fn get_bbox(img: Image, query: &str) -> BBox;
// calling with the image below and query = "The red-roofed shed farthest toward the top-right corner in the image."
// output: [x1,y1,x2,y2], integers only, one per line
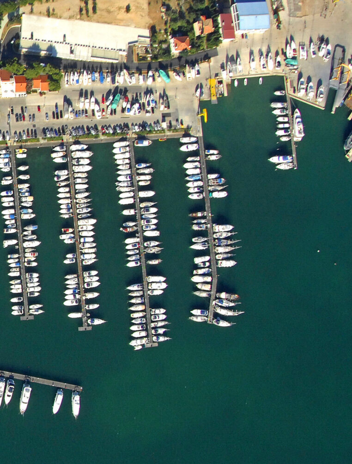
[216,13,237,41]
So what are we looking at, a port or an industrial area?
port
